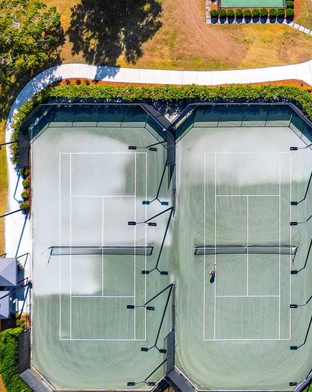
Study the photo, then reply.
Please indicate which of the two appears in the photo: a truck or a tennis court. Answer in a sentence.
It is a tennis court that can be seen here.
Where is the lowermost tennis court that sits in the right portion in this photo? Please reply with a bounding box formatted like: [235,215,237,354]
[175,104,312,392]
